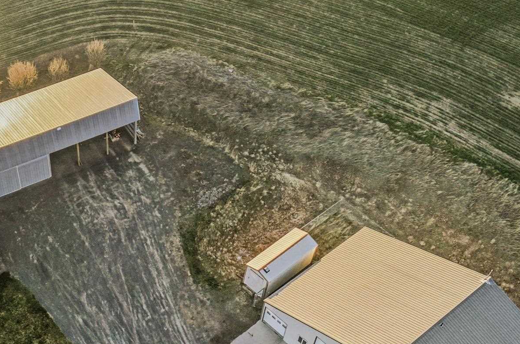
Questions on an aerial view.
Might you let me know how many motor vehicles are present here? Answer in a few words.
zero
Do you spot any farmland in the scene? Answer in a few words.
Yes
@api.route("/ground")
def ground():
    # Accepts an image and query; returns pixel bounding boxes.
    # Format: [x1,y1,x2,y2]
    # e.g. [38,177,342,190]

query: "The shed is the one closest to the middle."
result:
[245,229,318,307]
